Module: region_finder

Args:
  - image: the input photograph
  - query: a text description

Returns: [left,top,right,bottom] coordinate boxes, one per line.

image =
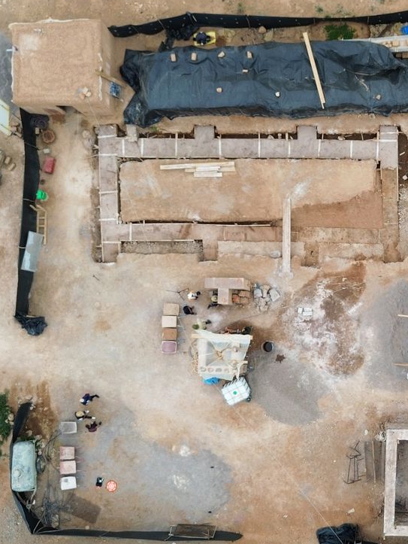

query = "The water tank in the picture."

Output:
[220,374,253,402]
